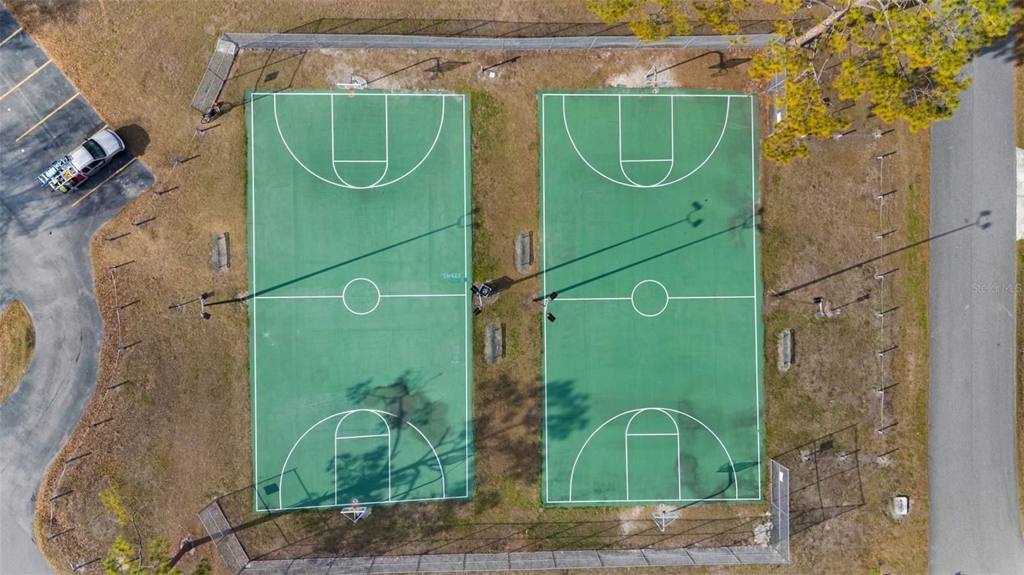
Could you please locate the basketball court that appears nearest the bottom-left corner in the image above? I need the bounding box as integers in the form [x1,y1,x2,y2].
[246,90,473,513]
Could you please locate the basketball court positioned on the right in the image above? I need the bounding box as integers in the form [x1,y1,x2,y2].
[538,89,765,508]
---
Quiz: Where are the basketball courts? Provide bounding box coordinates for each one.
[538,89,765,508]
[246,90,473,513]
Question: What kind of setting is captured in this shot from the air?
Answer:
sports ground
